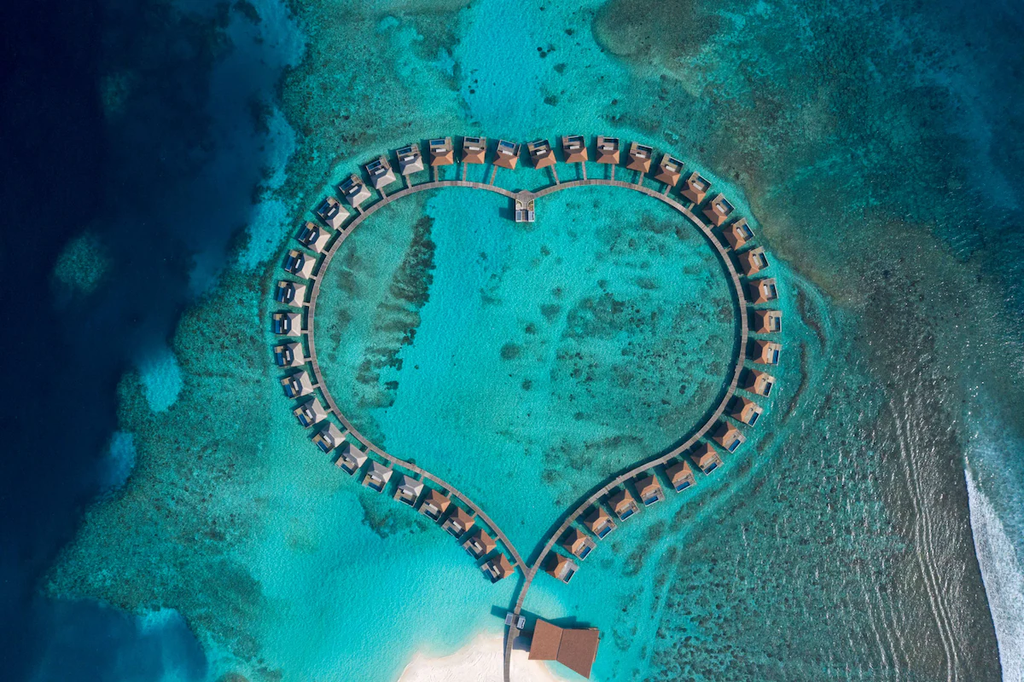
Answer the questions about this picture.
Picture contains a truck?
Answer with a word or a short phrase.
No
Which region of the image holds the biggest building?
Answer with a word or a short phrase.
bottom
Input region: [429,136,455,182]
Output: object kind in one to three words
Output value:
house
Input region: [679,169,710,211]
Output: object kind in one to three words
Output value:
house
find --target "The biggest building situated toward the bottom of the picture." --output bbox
[528,619,600,679]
